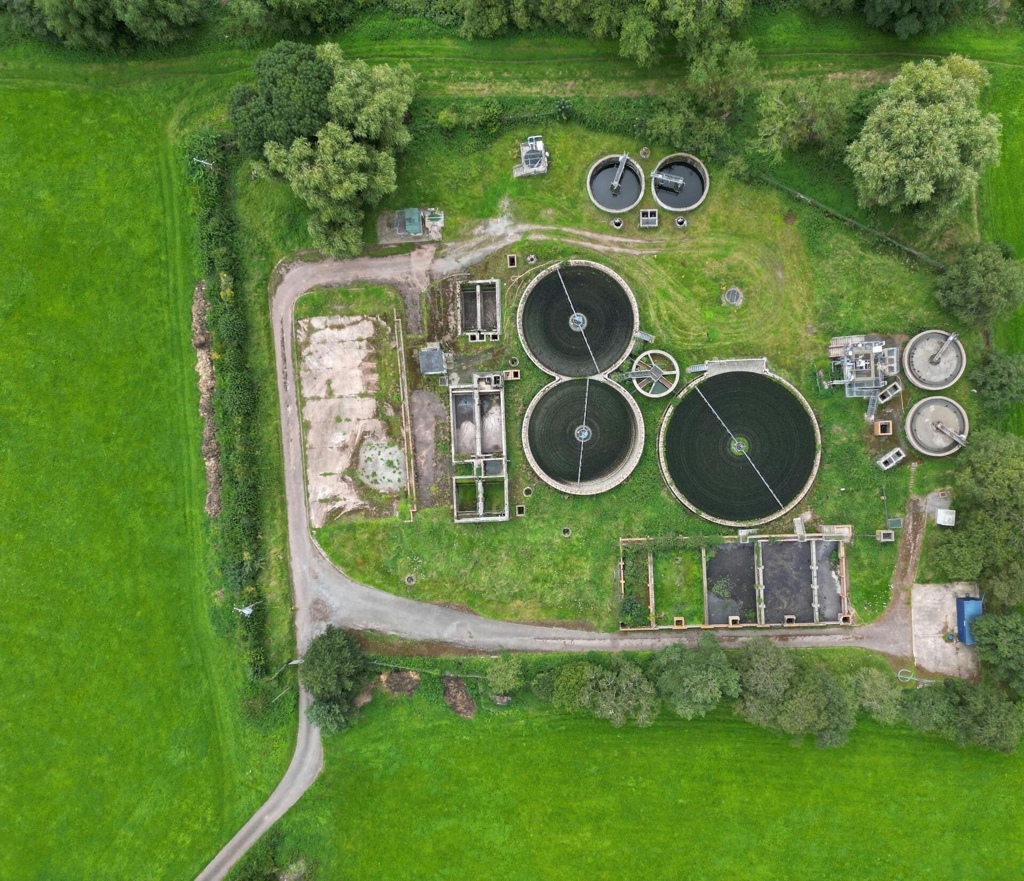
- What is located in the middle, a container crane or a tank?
tank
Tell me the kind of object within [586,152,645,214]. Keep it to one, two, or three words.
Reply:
storage tank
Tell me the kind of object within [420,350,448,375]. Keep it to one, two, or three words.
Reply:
building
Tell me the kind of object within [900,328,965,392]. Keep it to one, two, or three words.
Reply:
storage tank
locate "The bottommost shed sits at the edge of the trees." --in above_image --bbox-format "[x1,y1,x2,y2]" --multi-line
[951,593,986,644]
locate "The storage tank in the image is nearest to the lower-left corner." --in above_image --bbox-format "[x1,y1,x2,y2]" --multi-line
[449,372,512,523]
